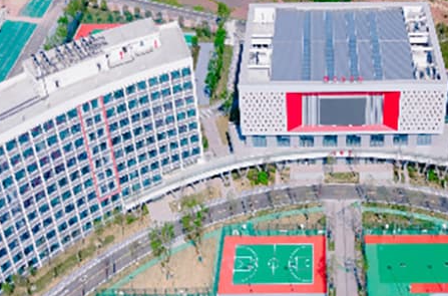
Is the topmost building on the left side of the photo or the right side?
right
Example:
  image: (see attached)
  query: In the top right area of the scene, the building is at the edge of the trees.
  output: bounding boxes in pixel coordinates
[238,3,448,144]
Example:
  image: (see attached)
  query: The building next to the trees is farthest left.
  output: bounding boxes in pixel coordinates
[0,19,208,286]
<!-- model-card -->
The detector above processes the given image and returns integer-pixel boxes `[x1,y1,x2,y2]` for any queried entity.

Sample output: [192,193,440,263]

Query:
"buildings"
[0,19,208,286]
[238,3,448,144]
